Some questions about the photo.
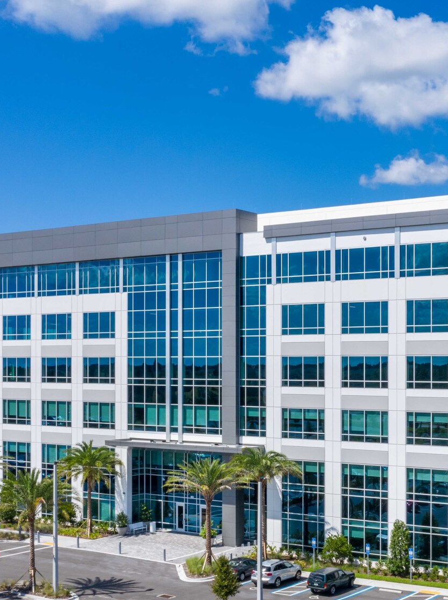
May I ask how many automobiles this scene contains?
three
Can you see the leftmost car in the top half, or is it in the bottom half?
bottom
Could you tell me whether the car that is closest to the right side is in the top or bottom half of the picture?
bottom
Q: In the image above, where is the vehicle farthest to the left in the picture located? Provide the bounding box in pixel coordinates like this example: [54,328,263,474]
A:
[237,562,257,582]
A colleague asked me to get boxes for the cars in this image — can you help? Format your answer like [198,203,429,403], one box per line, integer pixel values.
[251,559,304,587]
[305,566,355,595]
[237,562,257,582]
